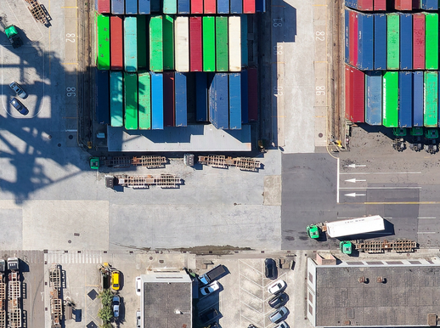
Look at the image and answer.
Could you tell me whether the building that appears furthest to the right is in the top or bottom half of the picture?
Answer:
bottom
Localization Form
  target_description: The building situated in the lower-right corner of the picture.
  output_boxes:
[305,246,440,326]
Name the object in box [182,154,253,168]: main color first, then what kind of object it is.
gray vehicle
